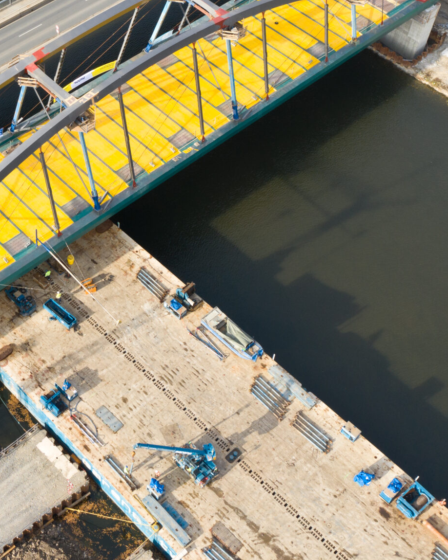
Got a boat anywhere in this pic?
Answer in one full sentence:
Yes, the picture does show a boat.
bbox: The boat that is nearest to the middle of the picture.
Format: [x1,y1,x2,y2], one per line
[200,306,262,361]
